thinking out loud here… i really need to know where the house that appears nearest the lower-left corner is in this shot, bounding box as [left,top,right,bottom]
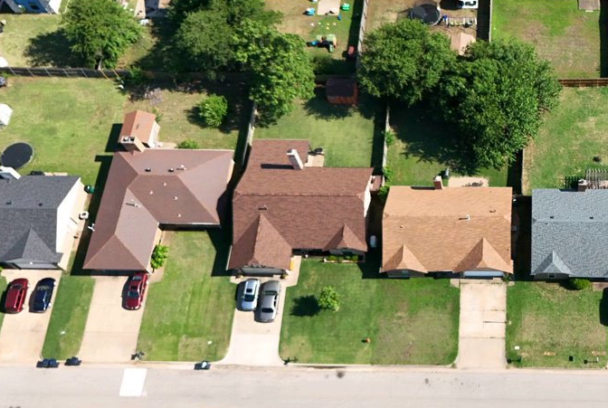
[0,165,87,272]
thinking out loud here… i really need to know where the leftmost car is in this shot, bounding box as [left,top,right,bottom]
[1,278,32,315]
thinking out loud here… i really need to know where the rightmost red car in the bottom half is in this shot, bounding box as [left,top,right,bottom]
[124,274,149,311]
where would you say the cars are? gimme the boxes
[124,274,149,311]
[237,277,261,313]
[30,278,57,314]
[1,278,32,315]
[258,281,282,322]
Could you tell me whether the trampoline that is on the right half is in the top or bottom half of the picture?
top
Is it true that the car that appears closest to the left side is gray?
No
